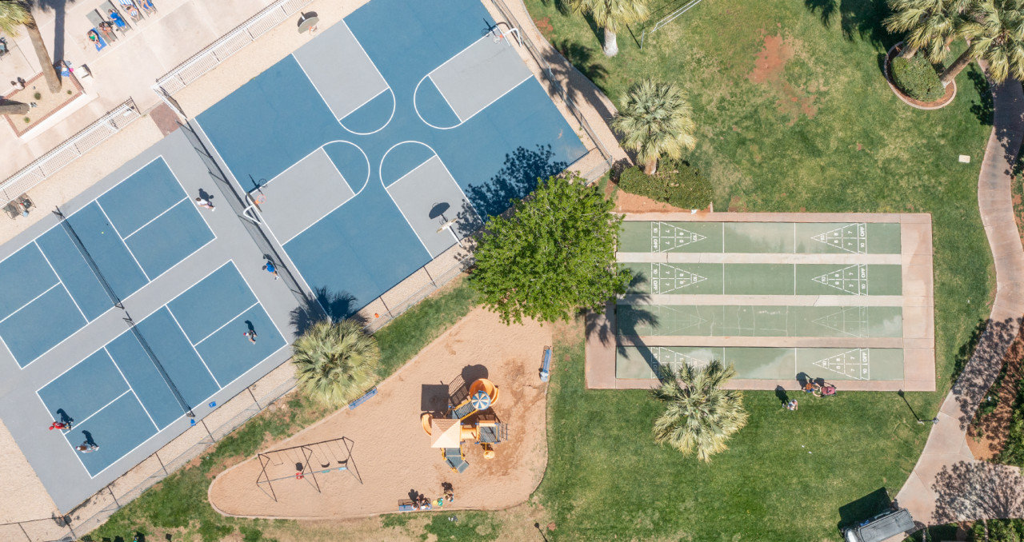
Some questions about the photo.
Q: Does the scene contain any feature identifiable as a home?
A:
No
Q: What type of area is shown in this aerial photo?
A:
sports ground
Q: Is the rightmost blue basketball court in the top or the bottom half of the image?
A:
top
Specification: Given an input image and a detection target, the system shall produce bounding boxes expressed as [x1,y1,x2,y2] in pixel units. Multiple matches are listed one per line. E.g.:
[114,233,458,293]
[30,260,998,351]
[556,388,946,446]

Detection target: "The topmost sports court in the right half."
[616,220,901,253]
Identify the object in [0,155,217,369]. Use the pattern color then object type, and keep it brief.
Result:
blue sports court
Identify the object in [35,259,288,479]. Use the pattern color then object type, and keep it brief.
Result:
blue sports court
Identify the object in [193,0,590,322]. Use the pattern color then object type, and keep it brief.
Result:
blue basketball court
